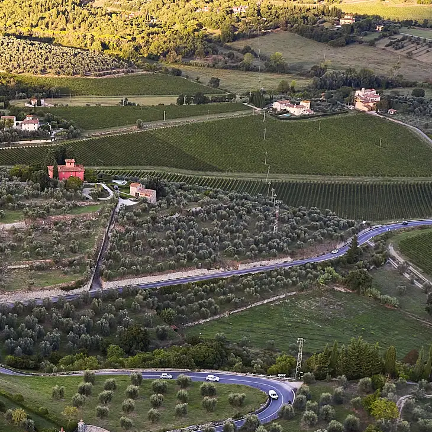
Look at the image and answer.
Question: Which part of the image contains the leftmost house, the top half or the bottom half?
top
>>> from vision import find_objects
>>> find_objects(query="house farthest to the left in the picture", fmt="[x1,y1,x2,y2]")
[0,110,39,133]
